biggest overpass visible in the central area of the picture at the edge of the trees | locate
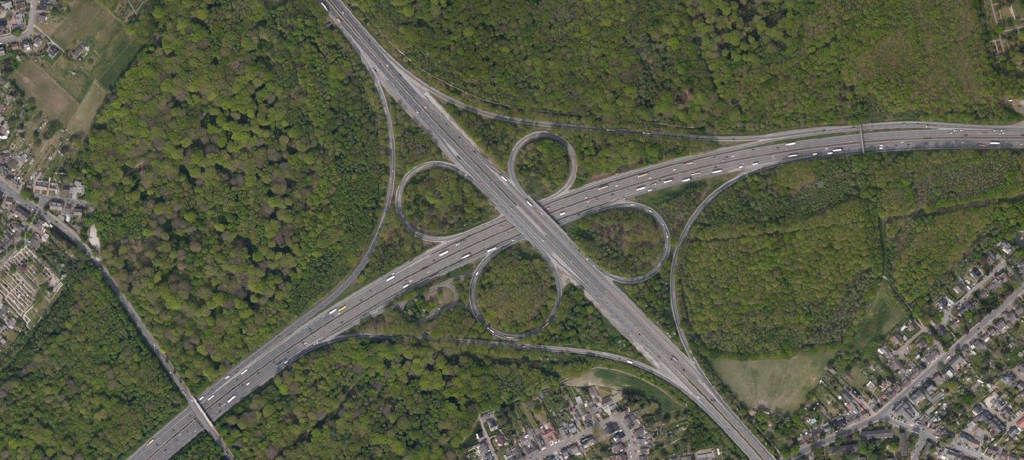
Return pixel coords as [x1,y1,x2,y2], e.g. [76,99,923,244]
[511,199,560,249]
